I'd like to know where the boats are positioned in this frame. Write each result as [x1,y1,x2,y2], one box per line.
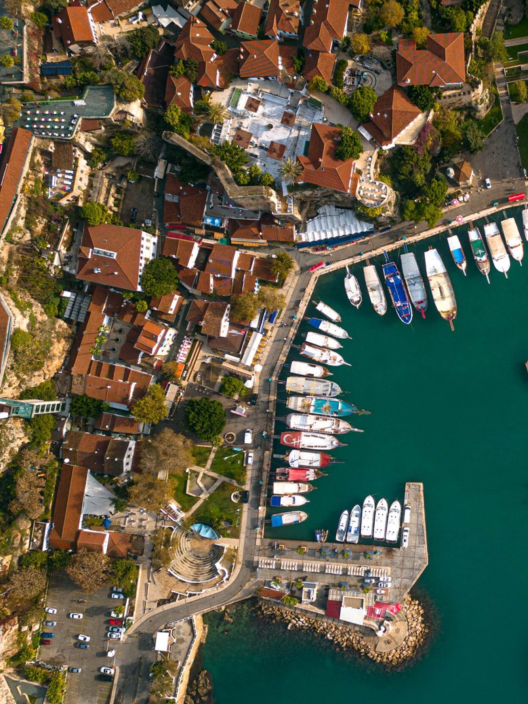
[273,448,336,468]
[312,295,342,321]
[263,511,307,528]
[416,238,455,330]
[277,356,333,377]
[274,390,370,416]
[268,467,328,481]
[361,255,383,315]
[483,206,507,278]
[361,495,375,538]
[338,264,360,312]
[448,224,467,275]
[270,430,345,450]
[336,510,348,541]
[263,482,315,495]
[296,328,343,347]
[374,499,387,541]
[261,495,309,507]
[274,412,362,435]
[275,372,348,397]
[346,505,361,543]
[468,218,489,284]
[494,206,522,266]
[376,249,408,323]
[385,501,400,543]
[302,313,351,339]
[396,241,424,318]
[523,205,528,236]
[287,339,351,364]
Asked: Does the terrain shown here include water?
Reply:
Yes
